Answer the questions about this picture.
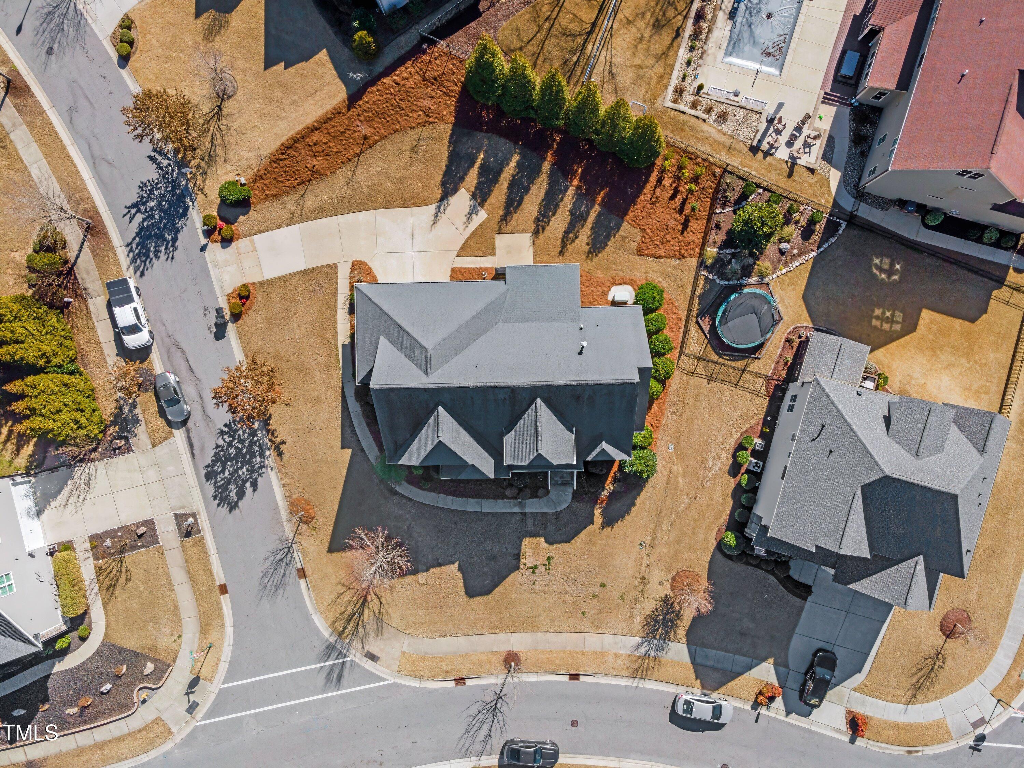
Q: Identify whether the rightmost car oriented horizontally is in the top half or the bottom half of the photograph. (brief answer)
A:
bottom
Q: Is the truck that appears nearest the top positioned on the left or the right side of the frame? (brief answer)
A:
left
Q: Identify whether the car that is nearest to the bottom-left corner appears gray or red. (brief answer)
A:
gray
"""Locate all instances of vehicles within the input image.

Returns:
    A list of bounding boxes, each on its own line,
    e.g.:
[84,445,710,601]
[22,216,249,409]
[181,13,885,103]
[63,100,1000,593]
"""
[797,645,835,709]
[503,735,562,768]
[107,279,155,355]
[673,690,734,725]
[152,369,191,425]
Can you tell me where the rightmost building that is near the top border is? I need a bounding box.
[853,0,1024,220]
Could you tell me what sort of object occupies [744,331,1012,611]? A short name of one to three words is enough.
house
